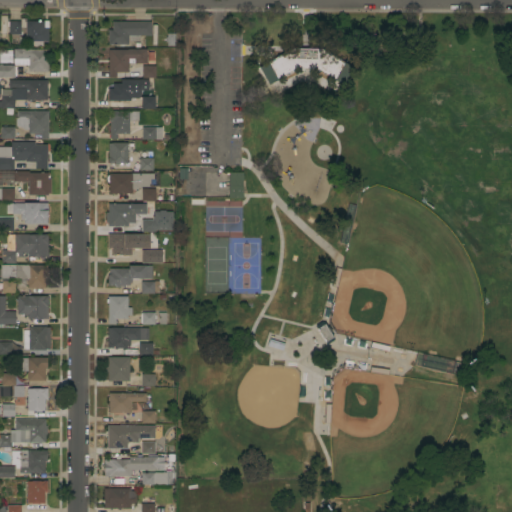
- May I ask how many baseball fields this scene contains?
three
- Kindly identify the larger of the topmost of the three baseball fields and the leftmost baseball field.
the topmost of the three baseball fields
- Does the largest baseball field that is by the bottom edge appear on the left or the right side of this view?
right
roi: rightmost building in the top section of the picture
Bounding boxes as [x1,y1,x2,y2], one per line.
[260,48,350,84]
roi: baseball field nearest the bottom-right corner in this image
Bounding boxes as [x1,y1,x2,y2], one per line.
[332,370,464,499]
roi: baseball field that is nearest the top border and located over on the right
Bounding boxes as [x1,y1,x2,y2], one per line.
[331,184,484,360]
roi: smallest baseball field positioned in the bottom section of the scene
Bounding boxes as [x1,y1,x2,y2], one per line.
[239,366,302,428]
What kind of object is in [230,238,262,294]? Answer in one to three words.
basketball court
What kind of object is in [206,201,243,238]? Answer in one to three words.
basketball court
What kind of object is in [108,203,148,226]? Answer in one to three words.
house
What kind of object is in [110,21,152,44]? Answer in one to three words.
house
